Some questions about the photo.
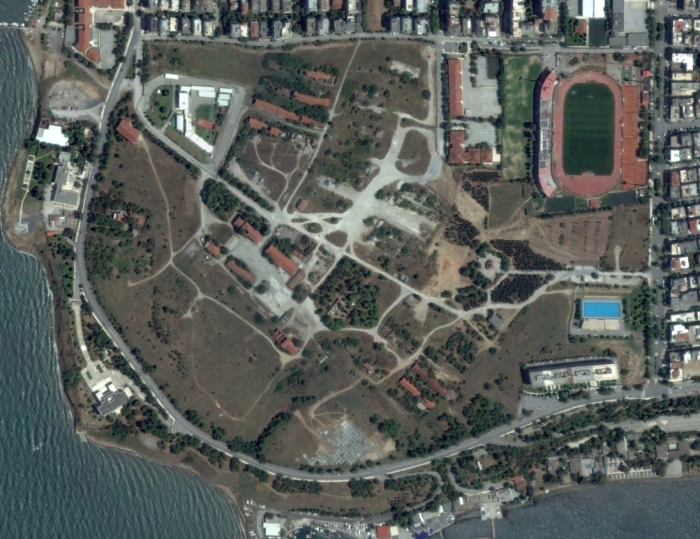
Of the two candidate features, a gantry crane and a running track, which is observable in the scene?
running track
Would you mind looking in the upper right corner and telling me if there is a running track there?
Yes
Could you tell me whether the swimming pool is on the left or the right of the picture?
right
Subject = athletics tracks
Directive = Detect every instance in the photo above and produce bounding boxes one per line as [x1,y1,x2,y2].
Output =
[552,69,623,196]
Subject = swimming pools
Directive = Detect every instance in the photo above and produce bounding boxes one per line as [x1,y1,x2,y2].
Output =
[582,296,623,319]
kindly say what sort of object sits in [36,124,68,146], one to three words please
building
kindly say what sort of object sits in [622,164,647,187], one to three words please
tennis court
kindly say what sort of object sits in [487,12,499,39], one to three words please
building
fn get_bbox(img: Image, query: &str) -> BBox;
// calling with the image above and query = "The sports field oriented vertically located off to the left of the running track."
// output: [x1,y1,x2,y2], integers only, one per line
[502,52,541,181]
